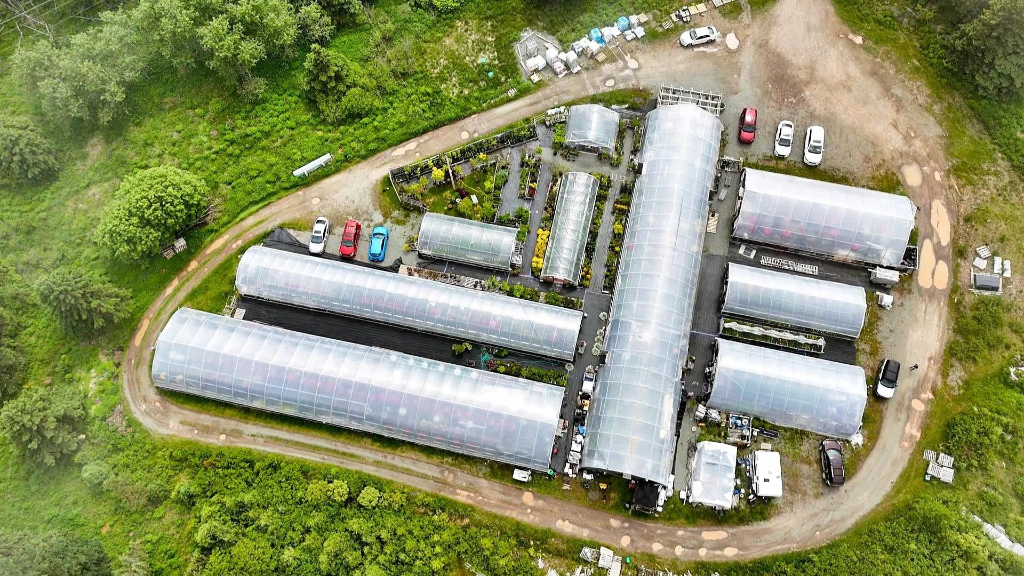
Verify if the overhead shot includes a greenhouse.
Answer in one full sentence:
Yes, the photo shows a greenhouse.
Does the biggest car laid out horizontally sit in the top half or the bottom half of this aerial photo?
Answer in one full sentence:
It is in the top half that the biggest car laid out horizontally appears.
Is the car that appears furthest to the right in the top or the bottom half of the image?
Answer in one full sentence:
The car that appears furthest to the right is in the bottom half of the image.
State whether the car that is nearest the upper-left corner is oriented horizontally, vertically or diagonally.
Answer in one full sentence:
The car that is nearest the upper-left corner is laid out vertically.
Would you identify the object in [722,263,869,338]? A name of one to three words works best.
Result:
greenhouse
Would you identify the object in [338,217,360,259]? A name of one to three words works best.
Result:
car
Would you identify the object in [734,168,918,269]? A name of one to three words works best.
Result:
greenhouse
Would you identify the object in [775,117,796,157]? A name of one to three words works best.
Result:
car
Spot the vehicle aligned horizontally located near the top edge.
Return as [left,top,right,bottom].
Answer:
[679,22,722,45]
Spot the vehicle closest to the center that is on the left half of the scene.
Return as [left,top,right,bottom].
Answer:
[368,223,389,262]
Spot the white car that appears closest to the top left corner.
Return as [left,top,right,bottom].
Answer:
[306,213,329,255]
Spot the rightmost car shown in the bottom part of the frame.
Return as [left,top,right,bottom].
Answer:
[877,355,903,401]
